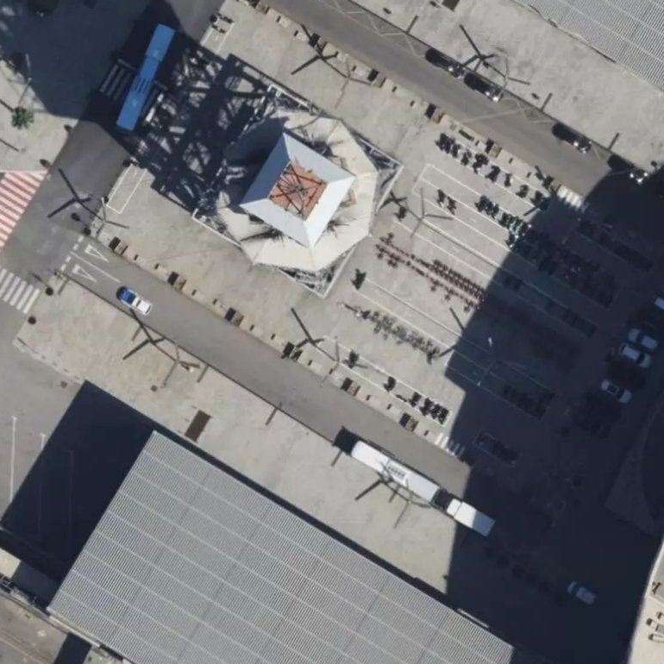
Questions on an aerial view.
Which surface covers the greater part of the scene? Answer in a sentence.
The bulk of the photo consists of paved ground.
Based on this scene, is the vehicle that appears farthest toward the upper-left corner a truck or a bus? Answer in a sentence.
Looking closely, the vehicle that appears farthest toward the upper-left corner is a bus.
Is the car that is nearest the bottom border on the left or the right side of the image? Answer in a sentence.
The car that is nearest the bottom border appears in the right half of the scene.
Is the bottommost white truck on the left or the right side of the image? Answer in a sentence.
It is on the right.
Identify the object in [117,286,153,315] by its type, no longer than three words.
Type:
car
